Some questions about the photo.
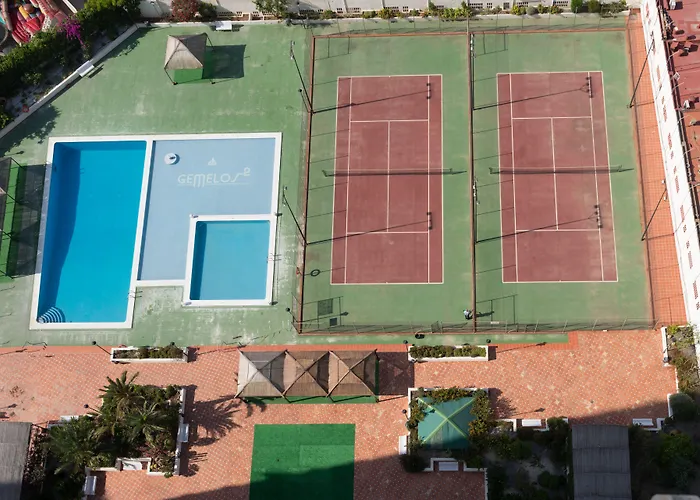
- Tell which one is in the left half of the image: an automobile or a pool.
pool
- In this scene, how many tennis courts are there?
2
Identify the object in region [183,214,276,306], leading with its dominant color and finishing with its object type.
blue swimming pool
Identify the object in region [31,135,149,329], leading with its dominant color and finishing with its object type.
blue swimming pool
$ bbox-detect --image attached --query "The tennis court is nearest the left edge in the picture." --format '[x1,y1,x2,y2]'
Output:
[300,34,473,332]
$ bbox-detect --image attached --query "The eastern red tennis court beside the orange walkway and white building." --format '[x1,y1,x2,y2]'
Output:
[472,29,651,330]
